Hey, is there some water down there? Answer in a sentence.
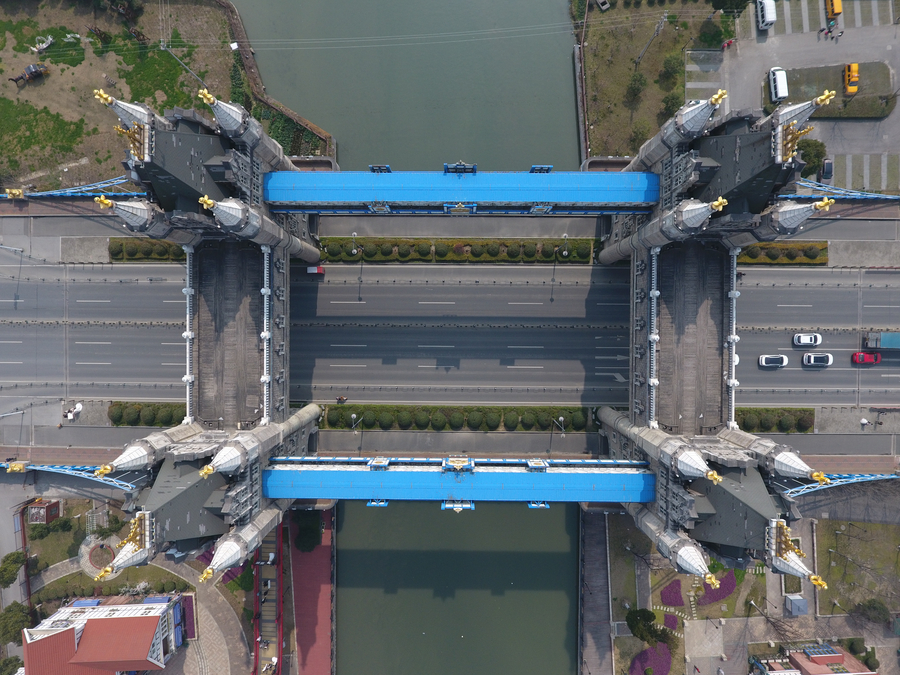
Yes, the picture does contain water.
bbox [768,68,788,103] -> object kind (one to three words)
vehicle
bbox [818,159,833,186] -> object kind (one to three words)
car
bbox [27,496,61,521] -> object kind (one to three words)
shed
